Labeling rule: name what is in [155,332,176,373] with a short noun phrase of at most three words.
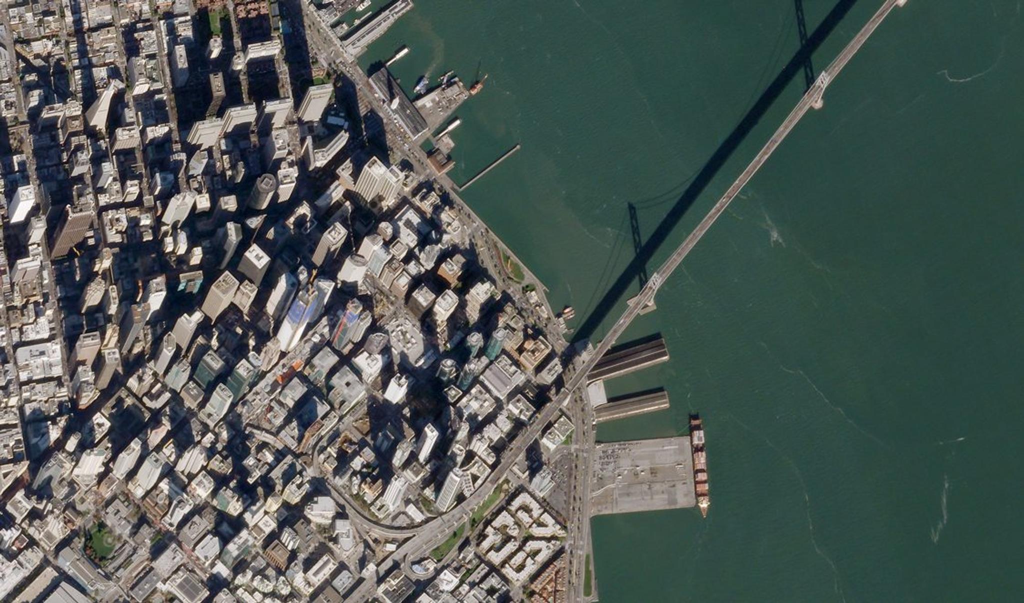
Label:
building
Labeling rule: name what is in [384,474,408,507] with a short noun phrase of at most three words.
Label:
building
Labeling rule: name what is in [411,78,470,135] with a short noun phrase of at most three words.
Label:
pier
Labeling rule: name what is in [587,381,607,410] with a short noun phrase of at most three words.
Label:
shed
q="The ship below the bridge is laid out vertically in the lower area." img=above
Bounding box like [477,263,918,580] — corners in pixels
[691,412,710,518]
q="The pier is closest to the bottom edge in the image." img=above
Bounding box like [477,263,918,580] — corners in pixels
[589,435,696,518]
